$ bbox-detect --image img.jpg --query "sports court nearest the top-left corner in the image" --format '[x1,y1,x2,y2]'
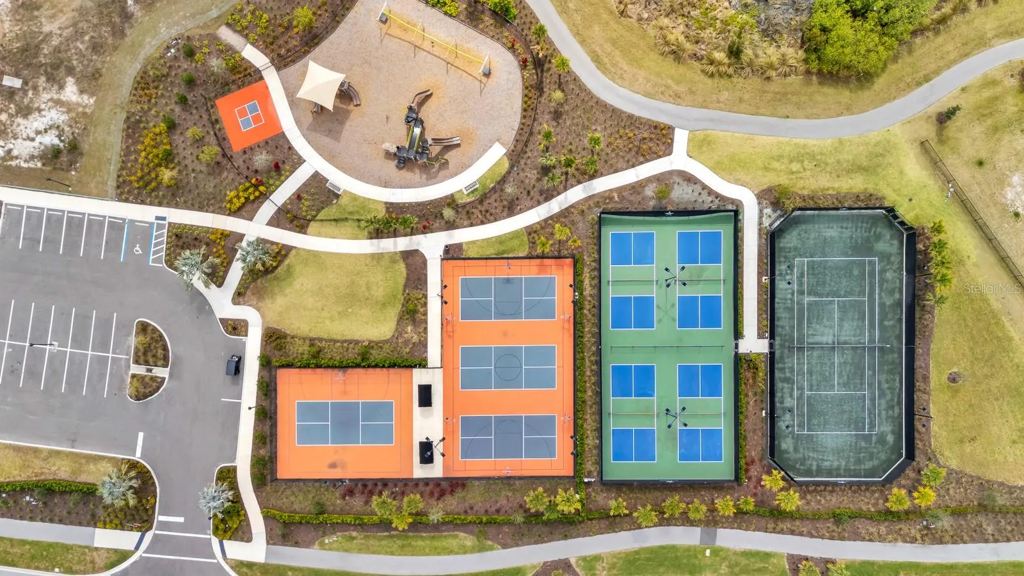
[215,80,282,151]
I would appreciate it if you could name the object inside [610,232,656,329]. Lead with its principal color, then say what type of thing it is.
blue sports court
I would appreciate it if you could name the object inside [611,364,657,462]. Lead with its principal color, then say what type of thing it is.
blue sports court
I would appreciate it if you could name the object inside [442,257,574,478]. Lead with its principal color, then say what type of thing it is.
orange basketball court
